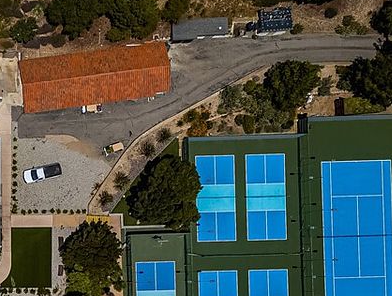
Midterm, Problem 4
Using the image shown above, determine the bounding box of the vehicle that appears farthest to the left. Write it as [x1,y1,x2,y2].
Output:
[23,163,62,184]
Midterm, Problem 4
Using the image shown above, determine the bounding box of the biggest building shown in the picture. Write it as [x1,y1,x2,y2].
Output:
[19,41,171,115]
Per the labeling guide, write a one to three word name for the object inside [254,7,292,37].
shed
